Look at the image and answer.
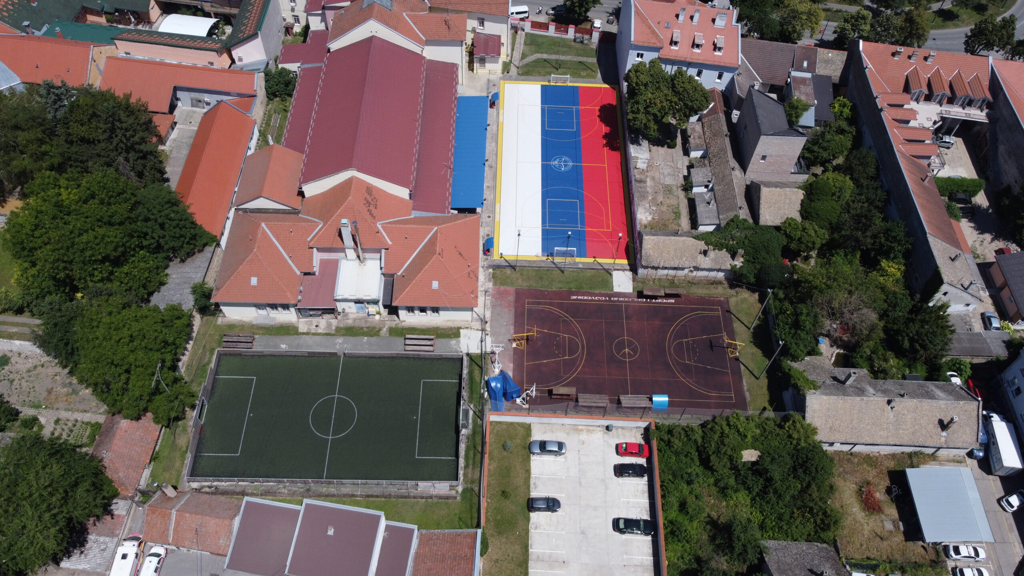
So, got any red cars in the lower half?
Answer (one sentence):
Yes, there is a red car in the lower half.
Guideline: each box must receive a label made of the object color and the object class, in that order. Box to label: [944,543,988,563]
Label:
white car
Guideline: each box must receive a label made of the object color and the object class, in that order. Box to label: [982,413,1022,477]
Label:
white truck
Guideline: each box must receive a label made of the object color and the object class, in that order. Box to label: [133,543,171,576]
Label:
white van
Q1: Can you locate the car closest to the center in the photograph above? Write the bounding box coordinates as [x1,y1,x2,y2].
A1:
[529,438,566,457]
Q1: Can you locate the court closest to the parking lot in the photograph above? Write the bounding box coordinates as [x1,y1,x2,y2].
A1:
[490,286,749,413]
